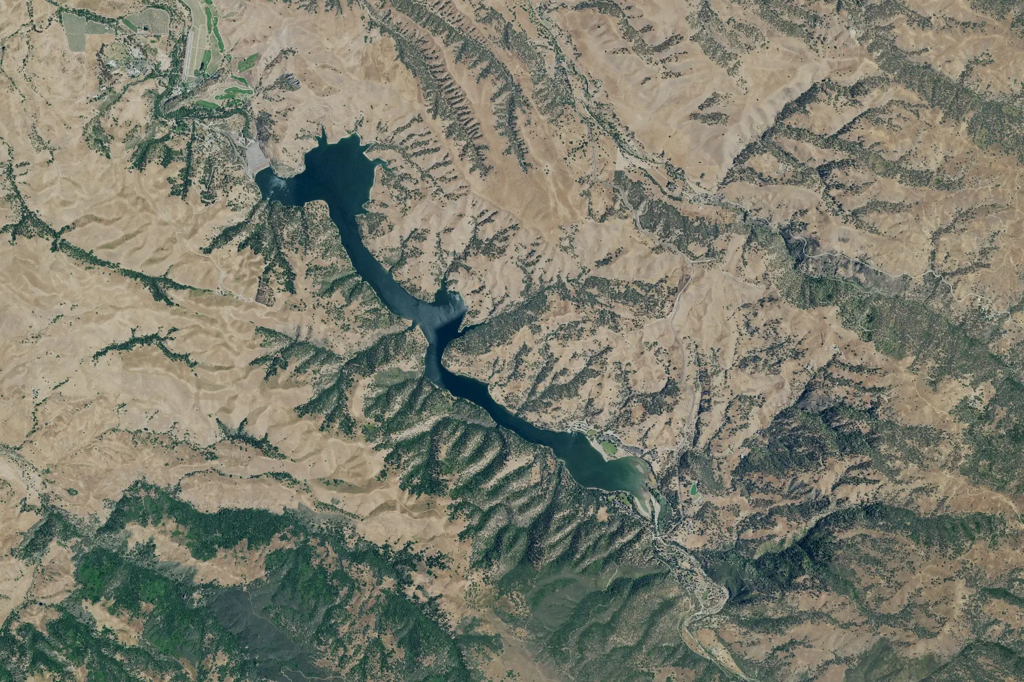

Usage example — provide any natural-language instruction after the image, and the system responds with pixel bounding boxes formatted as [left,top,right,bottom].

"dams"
[245,142,271,178]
